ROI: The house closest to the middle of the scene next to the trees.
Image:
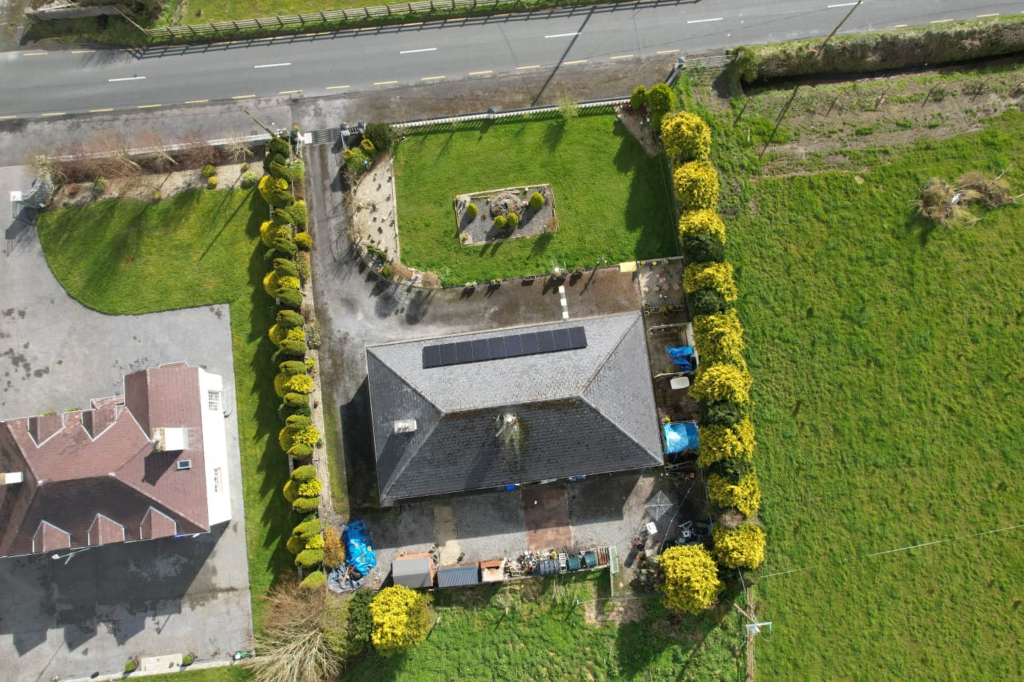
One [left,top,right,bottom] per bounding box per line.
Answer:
[366,311,665,505]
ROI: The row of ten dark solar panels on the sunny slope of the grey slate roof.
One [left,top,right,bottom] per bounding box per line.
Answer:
[423,328,587,368]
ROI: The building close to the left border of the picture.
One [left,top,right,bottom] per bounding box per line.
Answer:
[0,361,233,559]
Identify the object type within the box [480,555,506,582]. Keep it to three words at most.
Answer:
building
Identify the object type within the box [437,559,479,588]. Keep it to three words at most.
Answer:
shed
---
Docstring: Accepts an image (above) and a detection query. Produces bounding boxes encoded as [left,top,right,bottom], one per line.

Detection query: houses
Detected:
[0,361,233,559]
[366,311,665,505]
